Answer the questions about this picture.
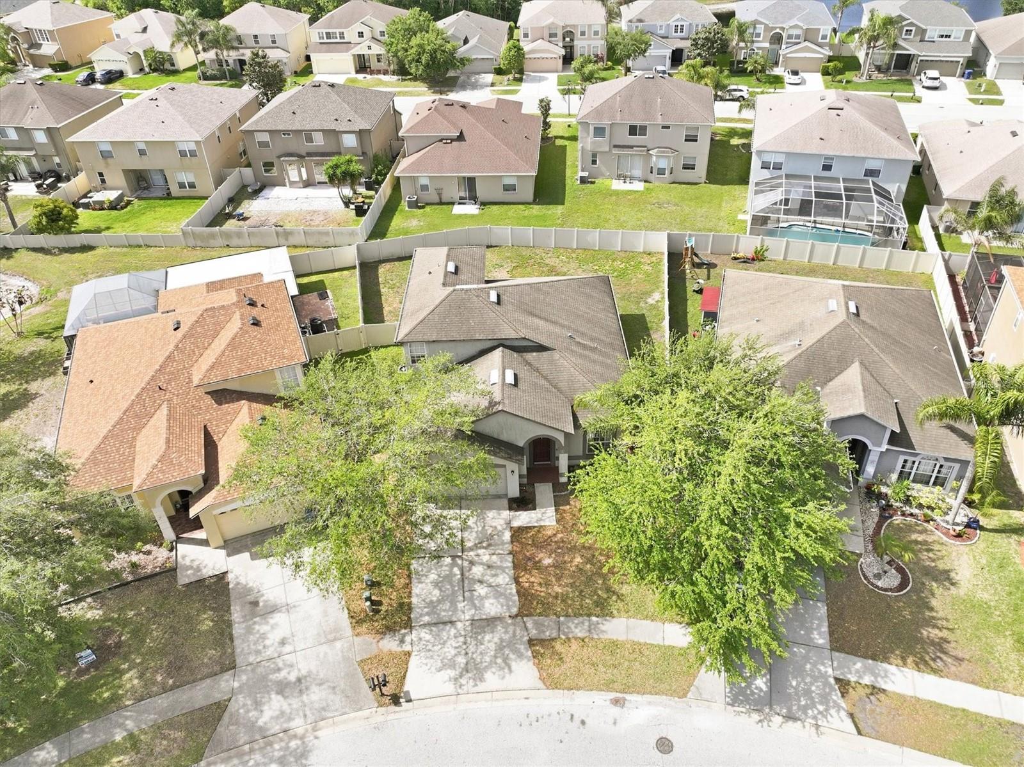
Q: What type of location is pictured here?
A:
residential area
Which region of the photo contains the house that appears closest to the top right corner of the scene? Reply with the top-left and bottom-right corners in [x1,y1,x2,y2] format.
[974,11,1024,76]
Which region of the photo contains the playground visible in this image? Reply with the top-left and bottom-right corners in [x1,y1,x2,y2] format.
[655,235,721,273]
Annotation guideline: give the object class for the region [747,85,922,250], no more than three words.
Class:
building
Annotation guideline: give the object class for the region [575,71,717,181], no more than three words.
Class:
house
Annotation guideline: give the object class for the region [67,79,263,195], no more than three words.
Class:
house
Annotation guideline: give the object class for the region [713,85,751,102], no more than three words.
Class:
car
